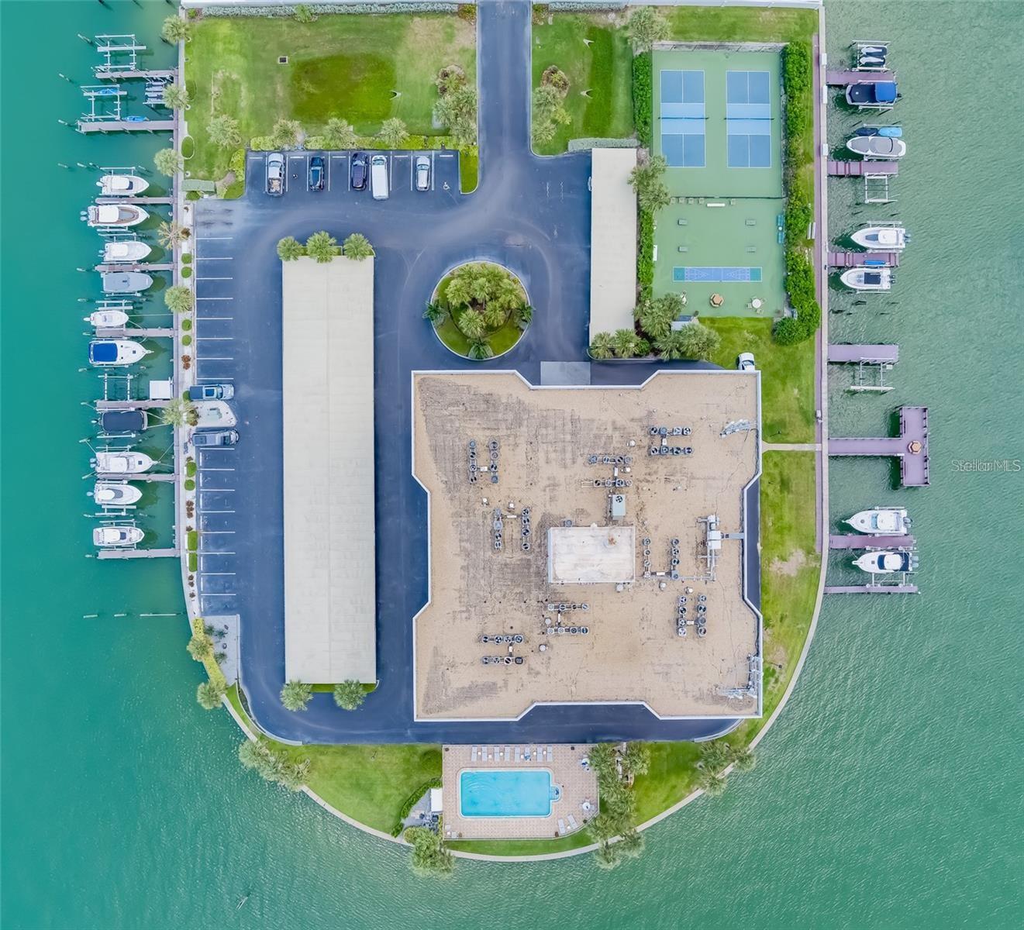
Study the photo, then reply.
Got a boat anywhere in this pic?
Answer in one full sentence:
Yes, I can see a boat in this picture.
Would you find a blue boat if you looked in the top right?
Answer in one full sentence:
Yes, a blue boat appears in the top right.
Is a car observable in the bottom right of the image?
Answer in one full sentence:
No, I can find no car in the bottom right of the image.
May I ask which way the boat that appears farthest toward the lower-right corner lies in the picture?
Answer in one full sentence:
The boat that appears farthest toward the lower-right corner runs from side to side in the image.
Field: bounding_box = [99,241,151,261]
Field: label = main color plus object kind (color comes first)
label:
white boat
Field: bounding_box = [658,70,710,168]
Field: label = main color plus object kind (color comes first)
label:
blue sports court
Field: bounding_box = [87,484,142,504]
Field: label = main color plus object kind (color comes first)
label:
white boat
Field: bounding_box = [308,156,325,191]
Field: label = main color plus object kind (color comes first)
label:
blue car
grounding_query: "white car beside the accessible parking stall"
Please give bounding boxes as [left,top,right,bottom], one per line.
[415,156,432,191]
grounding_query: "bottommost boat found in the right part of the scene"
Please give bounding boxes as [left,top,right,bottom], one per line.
[852,550,918,573]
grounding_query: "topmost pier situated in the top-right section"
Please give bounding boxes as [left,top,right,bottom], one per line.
[828,69,897,90]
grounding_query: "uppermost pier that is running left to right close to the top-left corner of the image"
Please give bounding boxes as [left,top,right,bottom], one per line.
[96,68,178,84]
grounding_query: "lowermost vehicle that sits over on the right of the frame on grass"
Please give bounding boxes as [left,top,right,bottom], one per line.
[737,353,755,371]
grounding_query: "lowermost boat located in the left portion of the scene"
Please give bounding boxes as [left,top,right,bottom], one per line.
[93,526,144,546]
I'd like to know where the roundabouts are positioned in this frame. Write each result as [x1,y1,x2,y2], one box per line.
[431,260,531,360]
